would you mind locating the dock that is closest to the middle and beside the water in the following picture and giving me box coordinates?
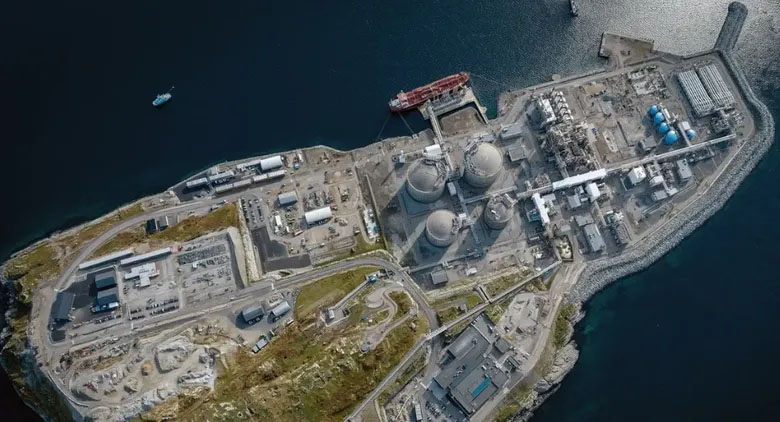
[417,88,487,124]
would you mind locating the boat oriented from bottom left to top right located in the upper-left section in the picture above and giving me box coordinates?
[152,87,174,105]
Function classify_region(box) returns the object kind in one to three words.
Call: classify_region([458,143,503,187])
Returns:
storage tank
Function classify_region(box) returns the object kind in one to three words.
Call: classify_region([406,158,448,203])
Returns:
storage tank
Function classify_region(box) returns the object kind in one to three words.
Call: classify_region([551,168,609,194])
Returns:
building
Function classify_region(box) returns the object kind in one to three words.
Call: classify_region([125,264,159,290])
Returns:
building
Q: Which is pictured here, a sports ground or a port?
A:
port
